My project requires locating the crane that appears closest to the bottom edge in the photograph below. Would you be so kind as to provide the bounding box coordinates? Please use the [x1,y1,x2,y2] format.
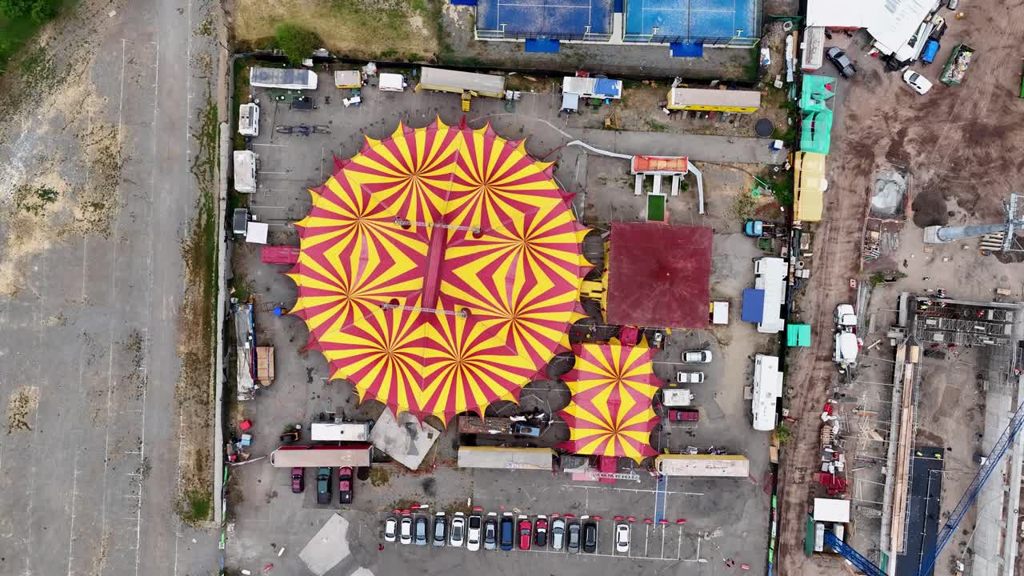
[800,496,901,576]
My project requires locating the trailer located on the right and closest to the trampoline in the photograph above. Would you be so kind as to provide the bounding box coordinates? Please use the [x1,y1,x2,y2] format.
[662,88,760,113]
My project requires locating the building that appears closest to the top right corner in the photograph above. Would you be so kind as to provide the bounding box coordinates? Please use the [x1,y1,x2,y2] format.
[806,0,940,62]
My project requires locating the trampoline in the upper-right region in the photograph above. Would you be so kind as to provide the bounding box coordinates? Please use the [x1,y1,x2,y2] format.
[755,118,775,137]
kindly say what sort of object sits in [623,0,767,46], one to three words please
sports court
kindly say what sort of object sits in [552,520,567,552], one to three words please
car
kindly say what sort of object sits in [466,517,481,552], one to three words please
vehicle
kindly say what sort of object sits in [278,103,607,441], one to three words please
tent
